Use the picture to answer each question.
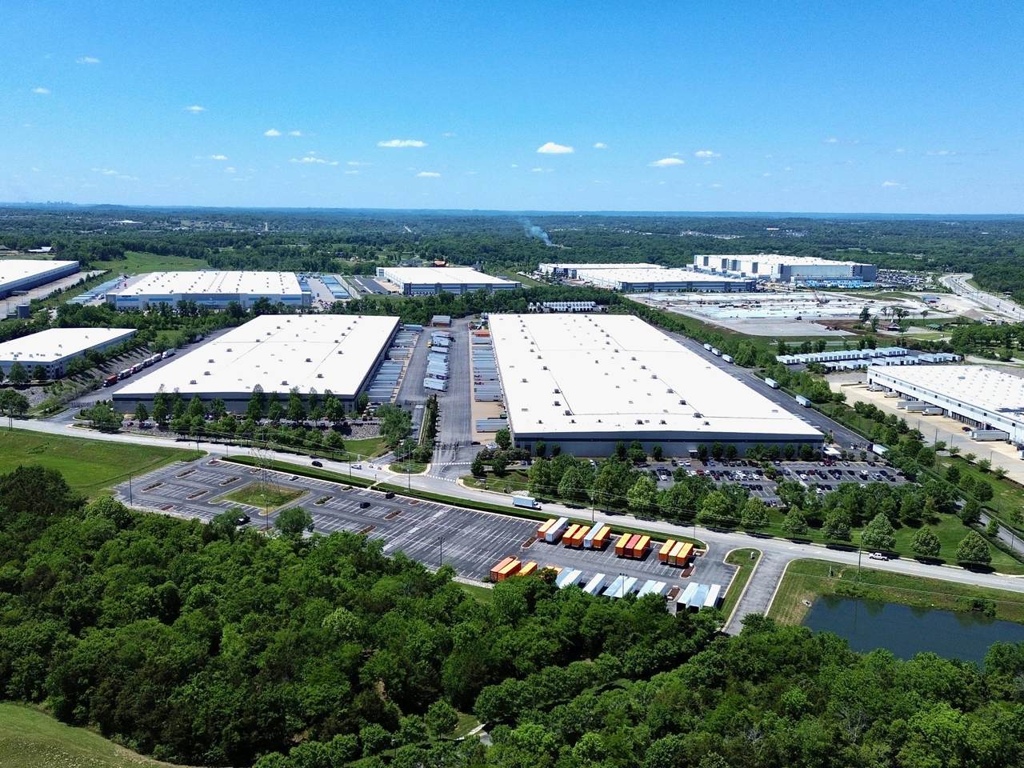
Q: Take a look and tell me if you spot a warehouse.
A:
Yes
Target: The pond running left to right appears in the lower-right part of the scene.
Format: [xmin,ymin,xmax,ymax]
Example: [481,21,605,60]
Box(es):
[805,593,1024,679]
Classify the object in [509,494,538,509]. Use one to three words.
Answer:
vehicle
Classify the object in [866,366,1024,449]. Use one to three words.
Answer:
building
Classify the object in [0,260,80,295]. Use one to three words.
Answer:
building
